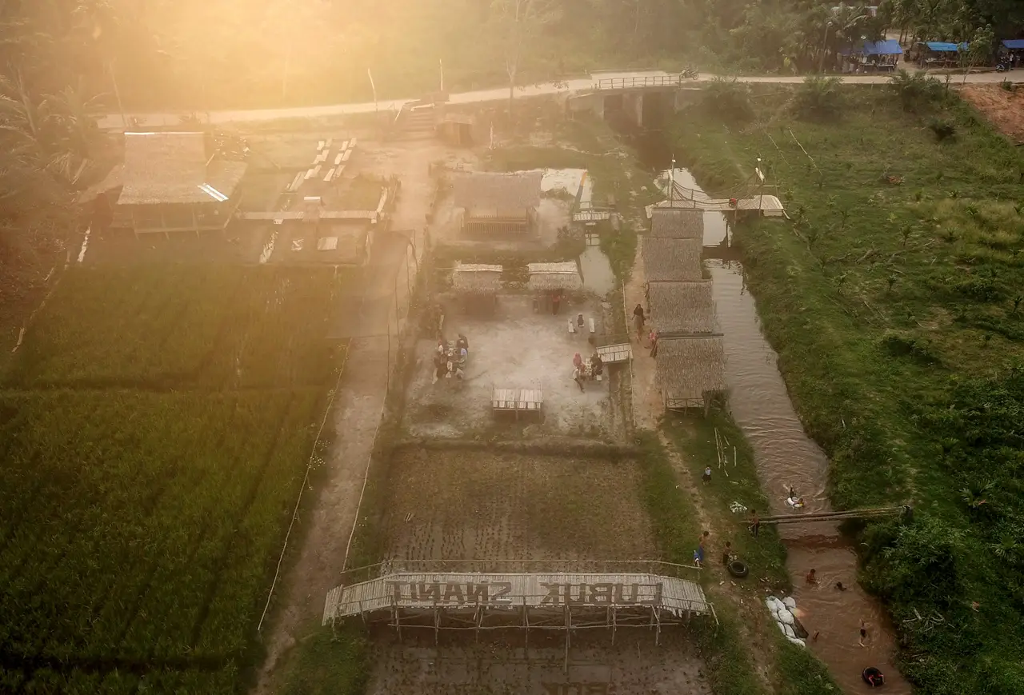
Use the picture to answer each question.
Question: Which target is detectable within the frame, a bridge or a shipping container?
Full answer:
I can see a bridge in this picture.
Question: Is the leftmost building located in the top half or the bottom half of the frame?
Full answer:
You can find the leftmost building in the top half.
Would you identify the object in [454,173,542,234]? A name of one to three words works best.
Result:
building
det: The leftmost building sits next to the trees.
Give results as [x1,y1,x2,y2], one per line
[77,131,249,243]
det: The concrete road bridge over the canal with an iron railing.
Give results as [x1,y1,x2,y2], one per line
[592,70,696,119]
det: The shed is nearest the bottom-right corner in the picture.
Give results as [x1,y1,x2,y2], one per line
[640,330,727,414]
